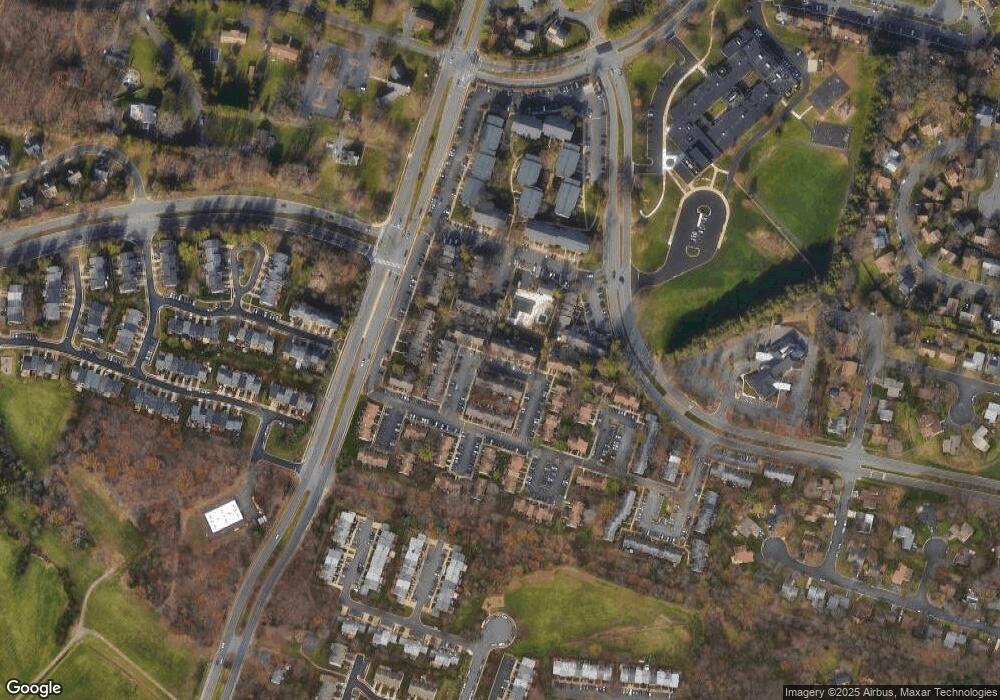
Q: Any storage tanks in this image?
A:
No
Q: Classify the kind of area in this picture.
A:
residential area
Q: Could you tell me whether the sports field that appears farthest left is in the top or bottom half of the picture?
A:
bottom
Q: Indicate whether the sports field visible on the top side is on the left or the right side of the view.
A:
right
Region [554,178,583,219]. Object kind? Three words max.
building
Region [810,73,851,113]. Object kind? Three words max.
basketball court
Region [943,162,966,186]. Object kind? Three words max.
house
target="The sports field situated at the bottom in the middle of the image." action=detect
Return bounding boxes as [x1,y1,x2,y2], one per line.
[510,574,691,651]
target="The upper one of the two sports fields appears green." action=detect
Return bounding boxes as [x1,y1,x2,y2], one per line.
[747,131,847,258]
